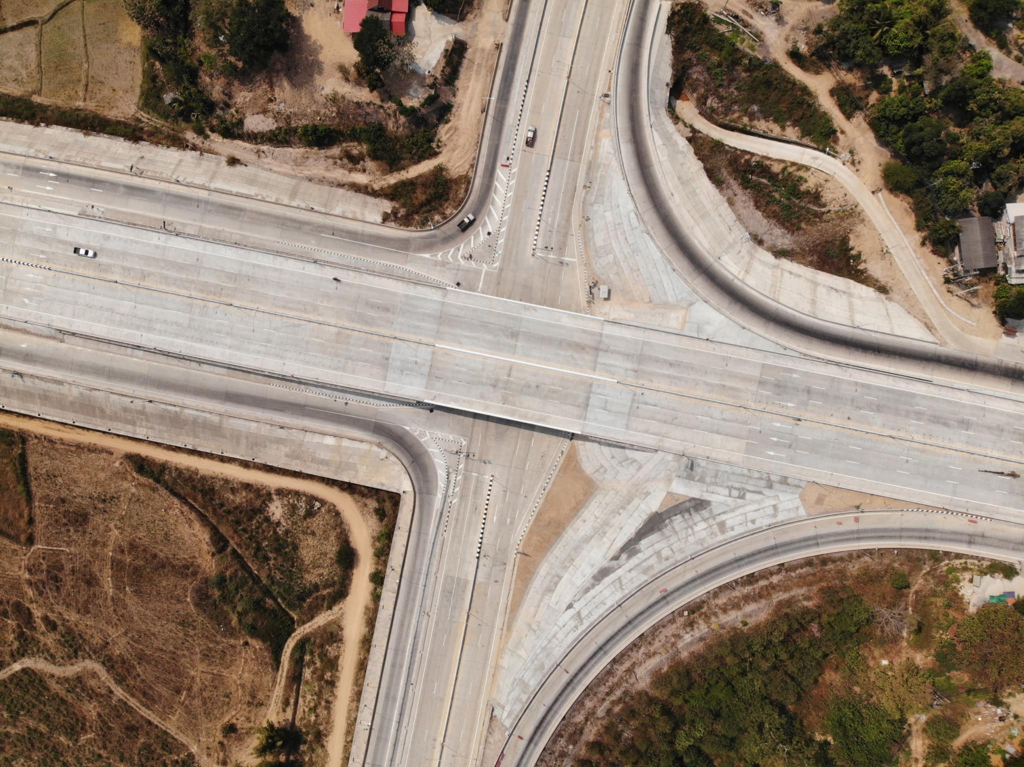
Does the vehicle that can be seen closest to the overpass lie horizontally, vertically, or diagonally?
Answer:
diagonally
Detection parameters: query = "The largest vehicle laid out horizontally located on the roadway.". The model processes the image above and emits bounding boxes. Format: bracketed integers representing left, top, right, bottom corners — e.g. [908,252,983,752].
[71,246,95,258]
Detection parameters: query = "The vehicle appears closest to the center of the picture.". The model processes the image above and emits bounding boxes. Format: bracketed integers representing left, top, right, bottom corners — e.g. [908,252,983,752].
[456,212,476,232]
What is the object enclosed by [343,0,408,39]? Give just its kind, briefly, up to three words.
house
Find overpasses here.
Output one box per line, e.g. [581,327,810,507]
[423,287,615,434]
